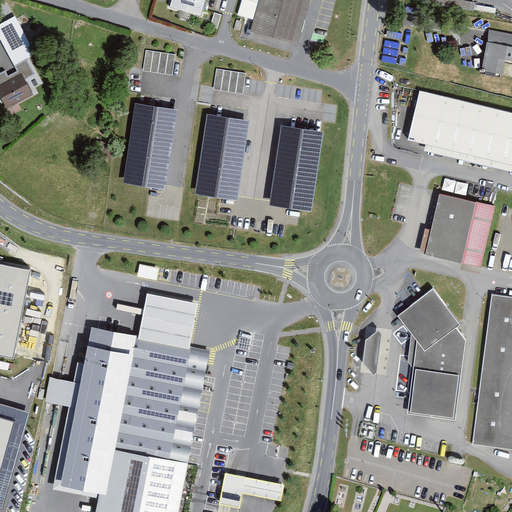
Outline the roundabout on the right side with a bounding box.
[307,244,374,310]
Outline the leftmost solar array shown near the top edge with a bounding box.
[2,24,22,50]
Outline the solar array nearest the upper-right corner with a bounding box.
[270,126,299,206]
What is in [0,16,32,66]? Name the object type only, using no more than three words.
house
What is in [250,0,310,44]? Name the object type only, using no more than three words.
building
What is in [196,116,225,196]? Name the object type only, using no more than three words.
solar array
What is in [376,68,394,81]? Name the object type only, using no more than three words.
vehicle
